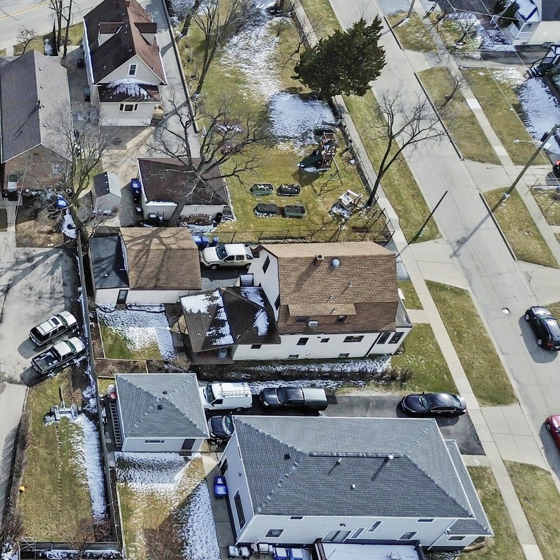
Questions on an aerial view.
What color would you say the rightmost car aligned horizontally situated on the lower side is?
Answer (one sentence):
The rightmost car aligned horizontally situated on the lower side looks black in the image.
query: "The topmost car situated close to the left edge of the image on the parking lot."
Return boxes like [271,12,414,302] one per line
[24,310,82,351]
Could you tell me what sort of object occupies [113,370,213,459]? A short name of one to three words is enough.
building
